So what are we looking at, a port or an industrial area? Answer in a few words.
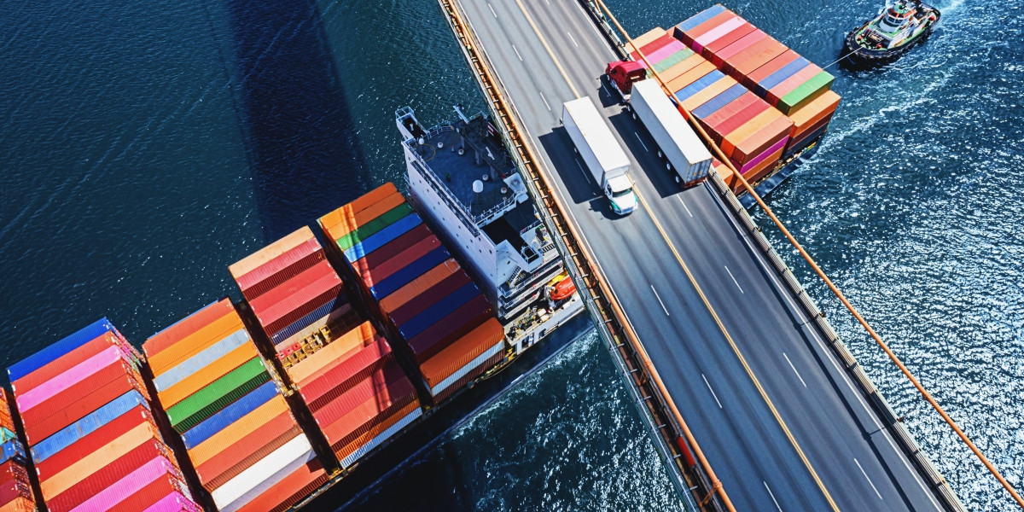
port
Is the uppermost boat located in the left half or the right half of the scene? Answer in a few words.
right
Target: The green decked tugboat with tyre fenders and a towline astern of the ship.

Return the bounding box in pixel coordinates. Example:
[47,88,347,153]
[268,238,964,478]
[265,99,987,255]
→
[837,0,948,72]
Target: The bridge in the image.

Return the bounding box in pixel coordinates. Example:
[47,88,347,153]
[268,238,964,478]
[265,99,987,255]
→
[429,0,1024,512]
